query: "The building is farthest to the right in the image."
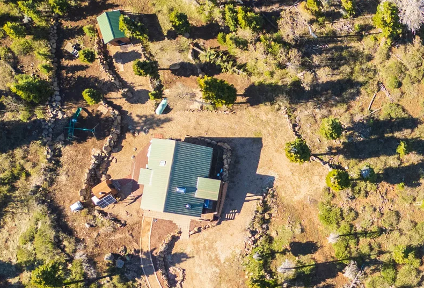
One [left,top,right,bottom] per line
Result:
[136,138,230,226]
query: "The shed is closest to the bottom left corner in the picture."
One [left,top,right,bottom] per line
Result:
[92,177,129,199]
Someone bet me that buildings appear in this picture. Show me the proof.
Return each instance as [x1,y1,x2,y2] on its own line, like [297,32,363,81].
[136,138,230,226]
[92,177,129,199]
[97,11,133,46]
